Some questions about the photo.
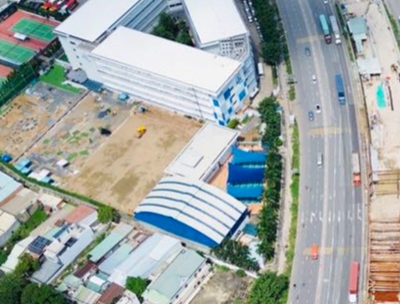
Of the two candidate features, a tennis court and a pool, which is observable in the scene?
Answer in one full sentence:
The one in the frame is a tennis court.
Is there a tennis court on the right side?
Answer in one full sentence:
No, no tennis court can be made out on the right side.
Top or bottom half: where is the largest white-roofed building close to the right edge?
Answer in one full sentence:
The largest white-roofed building close to the right edge sits in the top half of the picture.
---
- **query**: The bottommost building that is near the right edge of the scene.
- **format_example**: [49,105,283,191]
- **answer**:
[357,57,380,79]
